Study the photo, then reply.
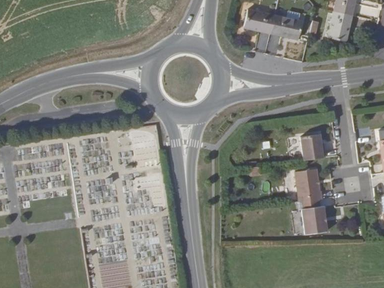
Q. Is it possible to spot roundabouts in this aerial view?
Yes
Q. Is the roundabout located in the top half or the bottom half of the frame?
top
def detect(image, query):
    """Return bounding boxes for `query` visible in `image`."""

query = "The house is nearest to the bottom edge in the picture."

[302,206,329,234]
